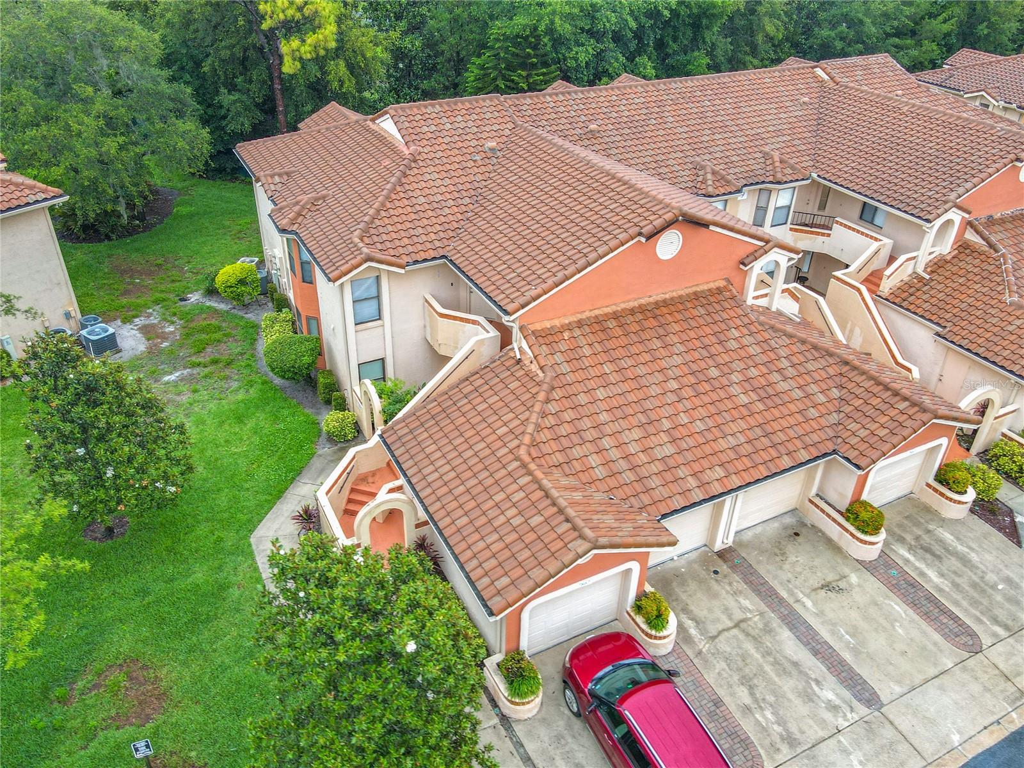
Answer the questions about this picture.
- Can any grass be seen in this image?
Yes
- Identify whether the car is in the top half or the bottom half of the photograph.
bottom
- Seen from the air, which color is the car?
red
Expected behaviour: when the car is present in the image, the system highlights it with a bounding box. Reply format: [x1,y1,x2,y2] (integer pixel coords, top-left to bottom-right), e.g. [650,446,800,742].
[559,629,745,768]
